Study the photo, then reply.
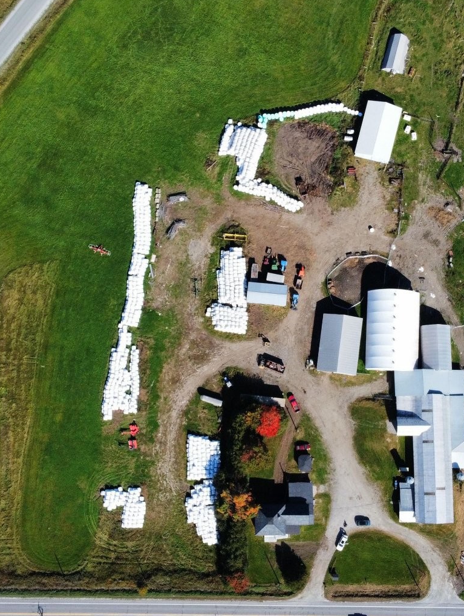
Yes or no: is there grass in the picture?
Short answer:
Yes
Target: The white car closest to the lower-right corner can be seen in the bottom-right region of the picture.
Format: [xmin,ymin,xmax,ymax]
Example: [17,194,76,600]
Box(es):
[336,532,349,550]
